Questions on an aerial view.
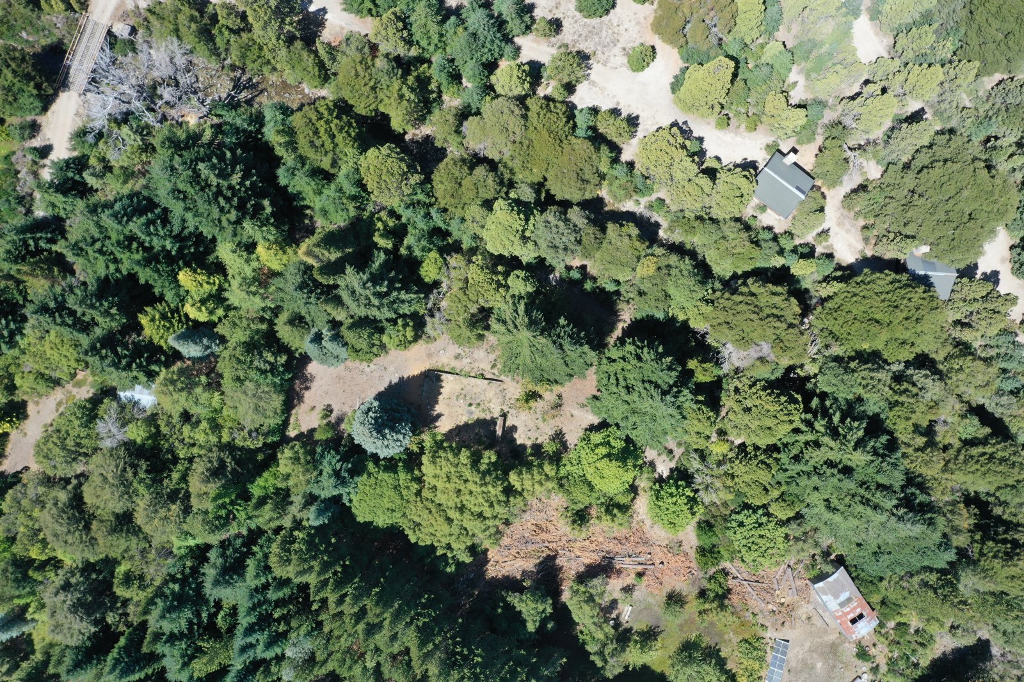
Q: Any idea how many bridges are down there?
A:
one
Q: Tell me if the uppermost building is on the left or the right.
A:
right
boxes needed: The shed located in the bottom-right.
[809,562,879,641]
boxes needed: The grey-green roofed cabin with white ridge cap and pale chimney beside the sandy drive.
[751,151,815,219]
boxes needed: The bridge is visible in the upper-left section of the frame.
[54,11,108,96]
